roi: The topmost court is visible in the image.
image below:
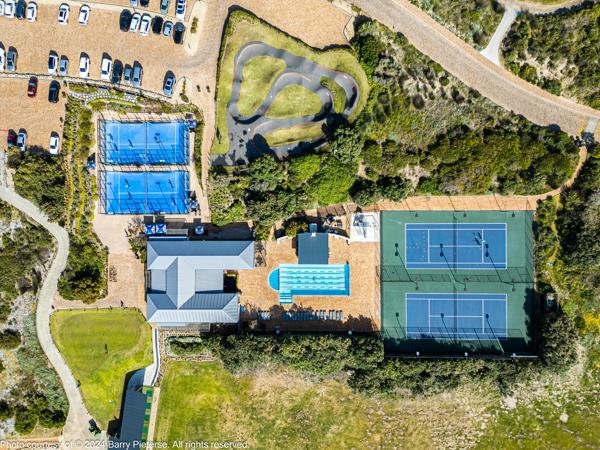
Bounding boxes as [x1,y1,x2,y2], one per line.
[99,118,189,165]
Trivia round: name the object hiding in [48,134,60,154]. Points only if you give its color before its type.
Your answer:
white vehicle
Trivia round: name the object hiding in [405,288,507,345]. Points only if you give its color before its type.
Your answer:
blue tennis court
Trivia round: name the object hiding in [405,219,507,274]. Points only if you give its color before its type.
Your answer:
blue tennis court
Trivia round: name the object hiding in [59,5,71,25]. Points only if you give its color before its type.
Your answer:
white vehicle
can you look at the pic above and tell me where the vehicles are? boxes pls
[4,0,16,21]
[59,5,71,25]
[163,75,175,96]
[129,0,138,10]
[154,17,163,35]
[139,0,149,9]
[159,0,171,15]
[131,67,142,87]
[0,49,8,70]
[6,52,18,72]
[141,13,152,36]
[79,5,90,26]
[49,82,61,103]
[27,2,39,22]
[58,59,69,77]
[89,427,100,439]
[16,131,28,151]
[15,0,28,21]
[6,131,18,149]
[47,56,59,75]
[120,11,132,32]
[163,20,173,38]
[173,22,184,45]
[131,14,142,32]
[111,62,124,83]
[28,79,39,97]
[122,66,134,84]
[48,134,60,154]
[101,59,112,80]
[79,58,90,79]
